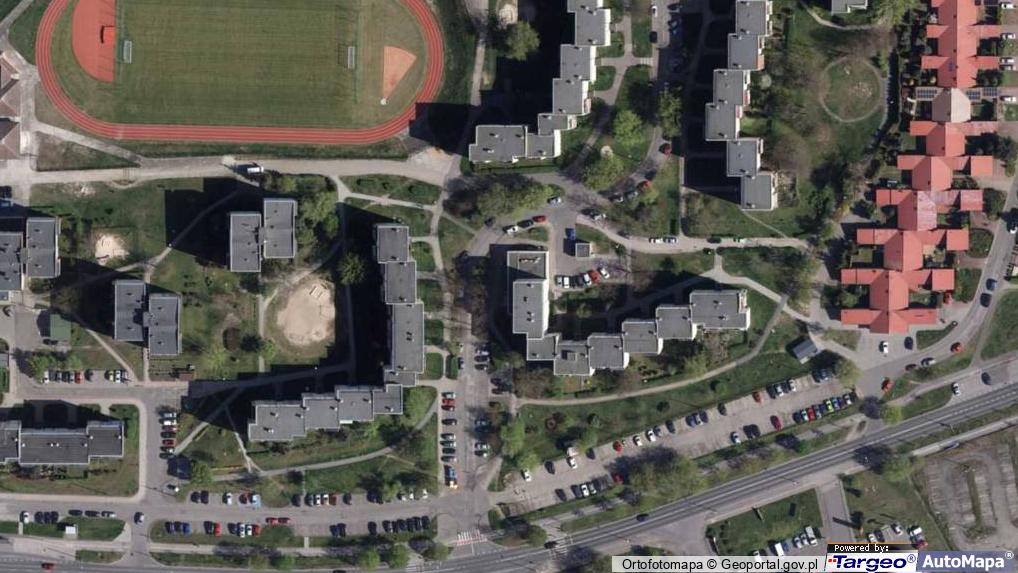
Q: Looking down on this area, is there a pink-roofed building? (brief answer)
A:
Yes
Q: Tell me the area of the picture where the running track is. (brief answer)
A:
top left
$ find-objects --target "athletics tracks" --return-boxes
[35,0,444,144]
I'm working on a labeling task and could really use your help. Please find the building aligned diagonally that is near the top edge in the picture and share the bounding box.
[469,0,609,164]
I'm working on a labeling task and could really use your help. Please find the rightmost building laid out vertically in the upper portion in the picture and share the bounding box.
[702,0,775,210]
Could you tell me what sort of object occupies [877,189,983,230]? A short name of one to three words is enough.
house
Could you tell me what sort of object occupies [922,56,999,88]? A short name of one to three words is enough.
house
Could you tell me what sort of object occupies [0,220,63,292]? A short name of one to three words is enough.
building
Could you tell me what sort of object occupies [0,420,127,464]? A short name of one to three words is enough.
building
